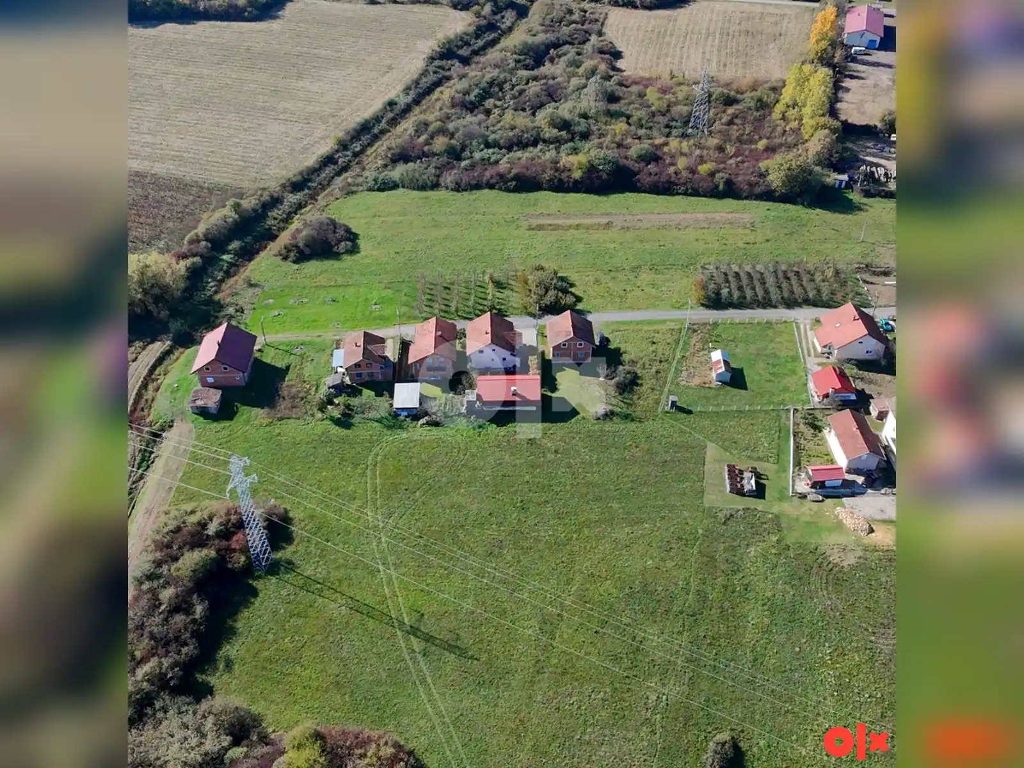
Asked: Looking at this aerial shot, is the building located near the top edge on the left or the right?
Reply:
right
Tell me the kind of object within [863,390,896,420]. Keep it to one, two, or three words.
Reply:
building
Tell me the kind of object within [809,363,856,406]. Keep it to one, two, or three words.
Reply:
house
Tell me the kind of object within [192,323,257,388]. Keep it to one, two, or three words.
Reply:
house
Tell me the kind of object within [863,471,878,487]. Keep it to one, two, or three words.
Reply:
car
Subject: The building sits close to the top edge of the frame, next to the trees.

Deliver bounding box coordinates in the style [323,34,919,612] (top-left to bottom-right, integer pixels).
[846,6,887,49]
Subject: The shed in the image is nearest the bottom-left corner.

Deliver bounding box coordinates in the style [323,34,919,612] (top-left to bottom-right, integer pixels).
[189,393,225,415]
